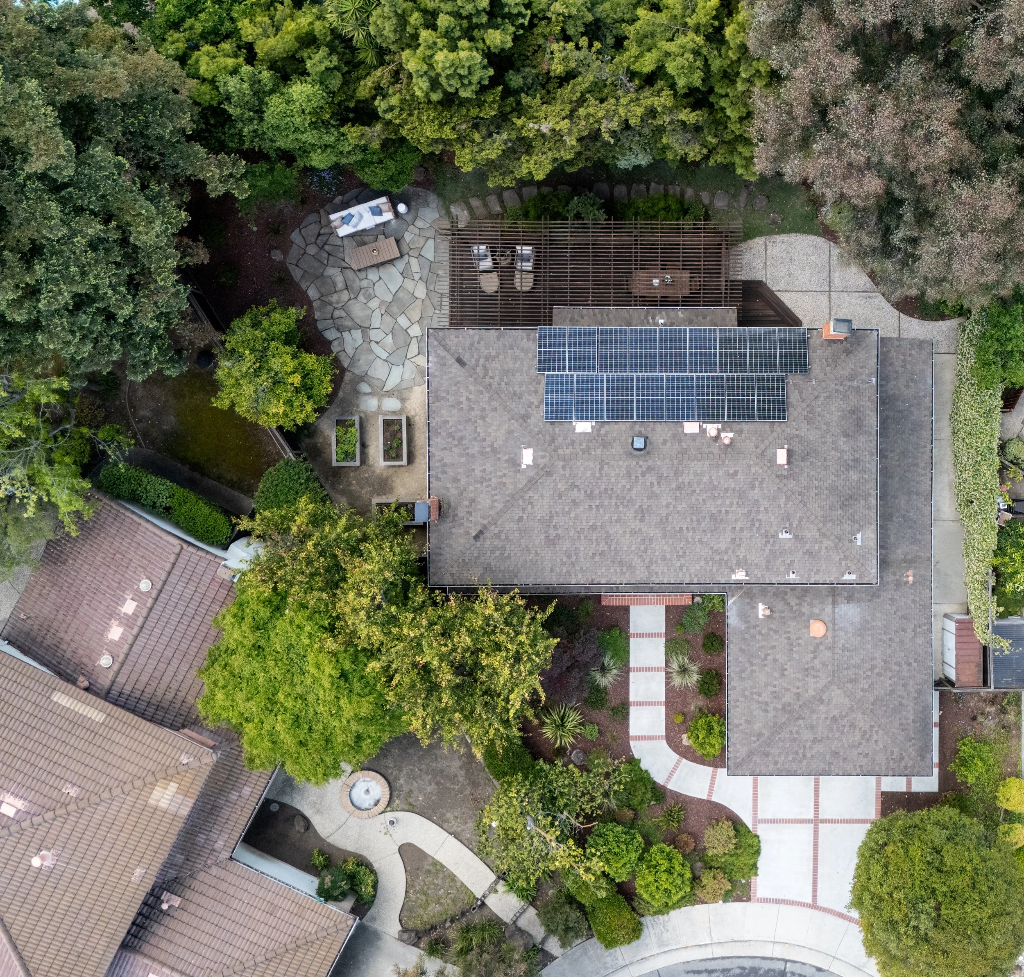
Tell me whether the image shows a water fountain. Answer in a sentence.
Yes, there's a water fountain down there.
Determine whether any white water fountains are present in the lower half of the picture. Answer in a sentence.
Yes, you'll find a white water fountain in the lower half of the picture.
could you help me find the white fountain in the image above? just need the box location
[342,769,391,819]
